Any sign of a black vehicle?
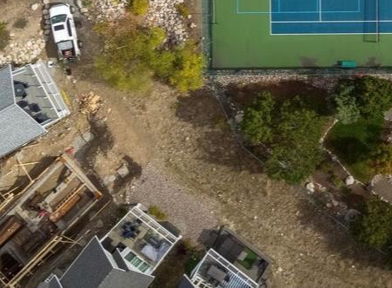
No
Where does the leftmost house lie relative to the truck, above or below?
below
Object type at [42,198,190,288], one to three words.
house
